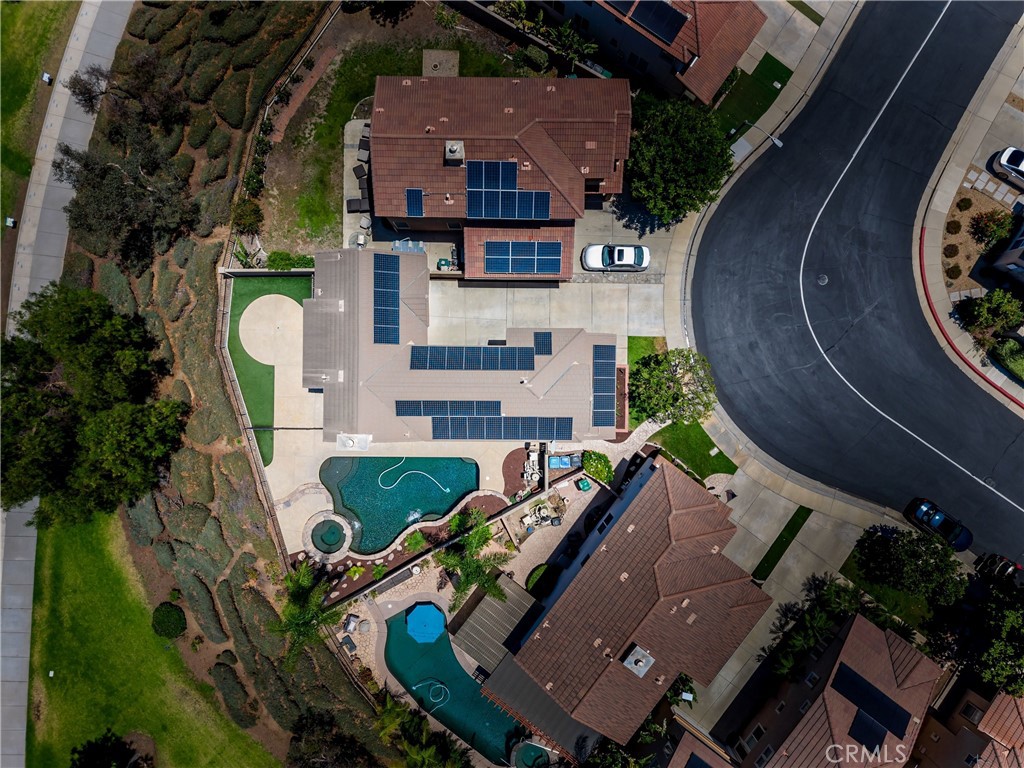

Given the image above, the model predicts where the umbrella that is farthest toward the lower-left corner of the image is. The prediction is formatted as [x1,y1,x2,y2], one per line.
[407,600,445,642]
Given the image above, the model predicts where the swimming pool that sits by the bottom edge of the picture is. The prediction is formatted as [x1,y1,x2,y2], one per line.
[374,589,555,768]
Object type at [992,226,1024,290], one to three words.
house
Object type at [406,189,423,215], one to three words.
solar panel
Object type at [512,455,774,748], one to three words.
house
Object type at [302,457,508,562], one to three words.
swimming pool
